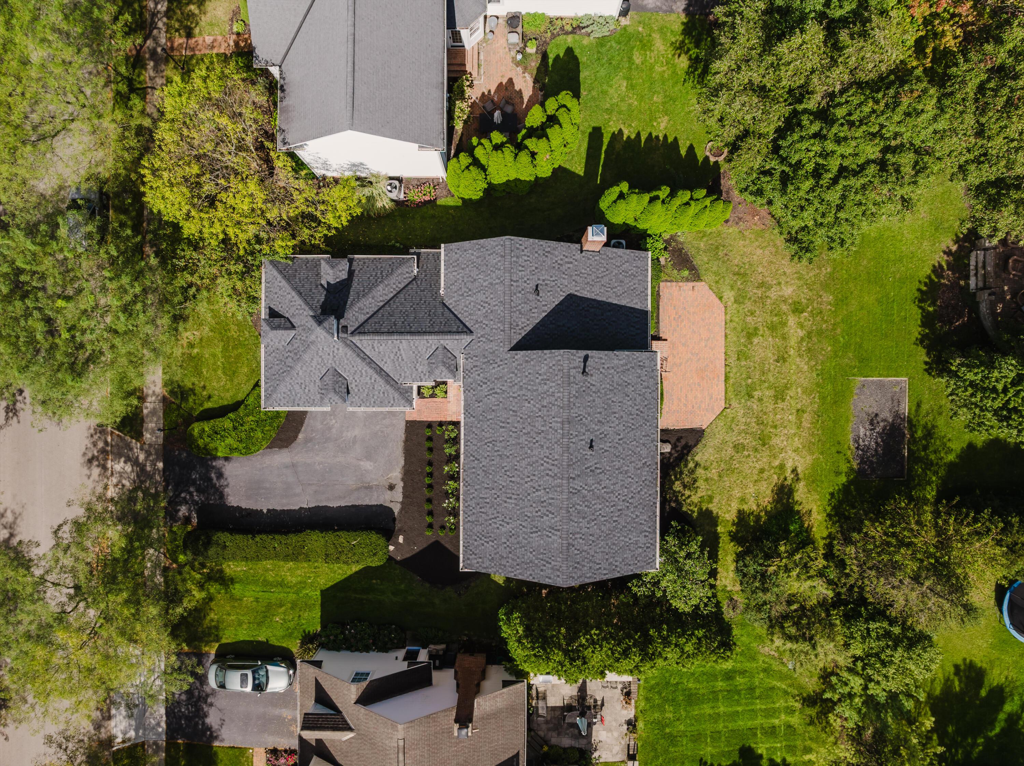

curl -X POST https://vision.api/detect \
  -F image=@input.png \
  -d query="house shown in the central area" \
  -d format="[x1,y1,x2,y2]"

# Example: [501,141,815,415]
[259,224,661,588]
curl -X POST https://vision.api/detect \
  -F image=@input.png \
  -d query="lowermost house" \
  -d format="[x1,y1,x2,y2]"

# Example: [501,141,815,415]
[294,644,528,766]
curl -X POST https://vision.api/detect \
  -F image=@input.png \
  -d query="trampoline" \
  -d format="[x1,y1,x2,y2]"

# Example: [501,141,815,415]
[991,579,1024,644]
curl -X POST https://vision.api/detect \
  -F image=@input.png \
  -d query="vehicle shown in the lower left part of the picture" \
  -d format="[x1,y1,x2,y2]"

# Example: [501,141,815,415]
[208,652,295,697]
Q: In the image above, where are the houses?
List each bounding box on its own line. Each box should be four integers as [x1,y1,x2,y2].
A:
[241,0,627,186]
[259,224,661,588]
[294,644,528,766]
